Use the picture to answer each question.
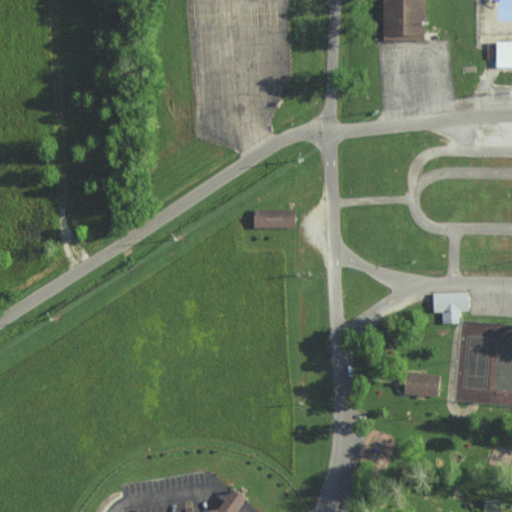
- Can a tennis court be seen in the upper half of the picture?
No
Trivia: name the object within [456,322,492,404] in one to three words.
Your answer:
tennis court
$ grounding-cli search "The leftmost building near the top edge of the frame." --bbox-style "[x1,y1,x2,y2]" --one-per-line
[384,0,428,43]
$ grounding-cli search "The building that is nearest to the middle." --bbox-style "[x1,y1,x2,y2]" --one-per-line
[254,210,296,230]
